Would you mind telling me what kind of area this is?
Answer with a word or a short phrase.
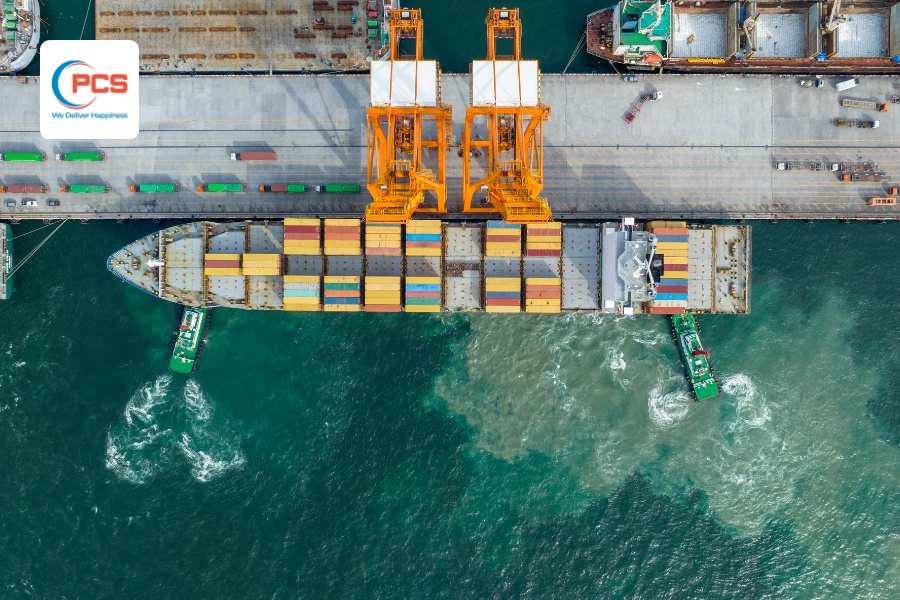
port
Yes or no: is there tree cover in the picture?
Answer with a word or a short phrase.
No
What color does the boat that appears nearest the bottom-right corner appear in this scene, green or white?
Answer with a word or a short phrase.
green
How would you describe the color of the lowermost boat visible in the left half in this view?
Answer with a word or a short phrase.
green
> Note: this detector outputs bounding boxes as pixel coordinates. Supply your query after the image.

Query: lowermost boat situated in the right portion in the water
[672,314,722,401]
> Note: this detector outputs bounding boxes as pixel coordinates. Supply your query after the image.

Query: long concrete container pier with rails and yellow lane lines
[0,70,900,224]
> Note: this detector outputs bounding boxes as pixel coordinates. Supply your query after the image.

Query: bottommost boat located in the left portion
[168,304,209,377]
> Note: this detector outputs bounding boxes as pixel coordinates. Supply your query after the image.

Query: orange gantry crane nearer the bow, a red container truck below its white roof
[364,2,454,227]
